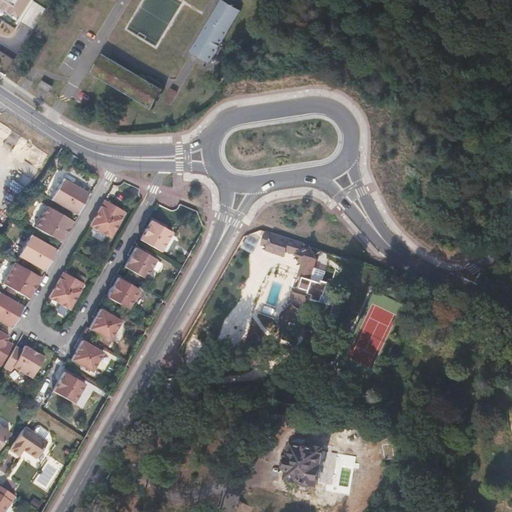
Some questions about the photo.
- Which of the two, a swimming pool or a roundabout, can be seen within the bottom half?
swimming pool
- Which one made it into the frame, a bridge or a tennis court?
tennis court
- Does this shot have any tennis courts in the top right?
No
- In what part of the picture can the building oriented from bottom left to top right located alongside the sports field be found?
top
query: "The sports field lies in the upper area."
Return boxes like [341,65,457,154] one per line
[128,0,184,47]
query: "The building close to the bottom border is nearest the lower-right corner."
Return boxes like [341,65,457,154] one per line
[278,442,325,488]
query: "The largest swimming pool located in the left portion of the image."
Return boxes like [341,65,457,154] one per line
[32,456,64,492]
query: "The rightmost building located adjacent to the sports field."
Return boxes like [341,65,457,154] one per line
[188,0,242,59]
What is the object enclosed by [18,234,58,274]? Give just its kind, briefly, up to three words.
house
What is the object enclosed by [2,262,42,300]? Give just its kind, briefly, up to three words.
house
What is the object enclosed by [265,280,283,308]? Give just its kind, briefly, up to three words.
swimming pool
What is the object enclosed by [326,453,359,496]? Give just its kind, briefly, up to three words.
swimming pool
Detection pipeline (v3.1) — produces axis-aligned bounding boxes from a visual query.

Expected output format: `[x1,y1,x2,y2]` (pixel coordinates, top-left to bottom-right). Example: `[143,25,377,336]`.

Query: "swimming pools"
[265,280,283,308]
[326,453,359,496]
[32,456,64,492]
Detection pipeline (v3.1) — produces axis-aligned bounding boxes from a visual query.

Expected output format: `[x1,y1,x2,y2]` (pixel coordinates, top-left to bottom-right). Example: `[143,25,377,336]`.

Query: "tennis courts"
[348,294,402,370]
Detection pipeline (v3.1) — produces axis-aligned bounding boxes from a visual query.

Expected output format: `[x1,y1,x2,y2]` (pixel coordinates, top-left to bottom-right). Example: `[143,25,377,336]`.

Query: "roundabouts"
[186,96,366,219]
